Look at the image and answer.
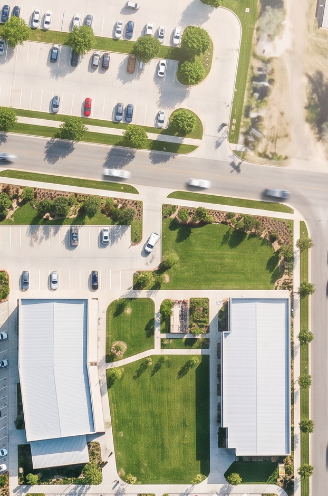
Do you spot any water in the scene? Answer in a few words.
No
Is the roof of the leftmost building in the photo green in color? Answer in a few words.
No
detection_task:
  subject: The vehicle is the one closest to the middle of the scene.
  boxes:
[145,231,159,253]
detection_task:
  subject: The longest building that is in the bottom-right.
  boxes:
[220,298,291,456]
